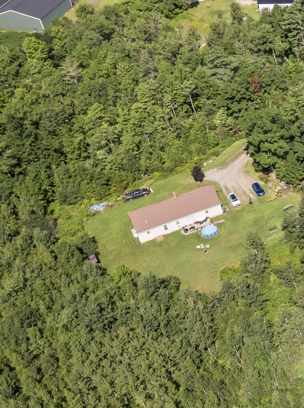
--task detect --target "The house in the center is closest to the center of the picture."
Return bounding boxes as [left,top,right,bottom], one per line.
[128,183,224,242]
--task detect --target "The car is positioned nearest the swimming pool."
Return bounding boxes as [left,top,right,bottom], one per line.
[227,192,242,208]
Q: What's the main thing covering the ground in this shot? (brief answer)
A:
trees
